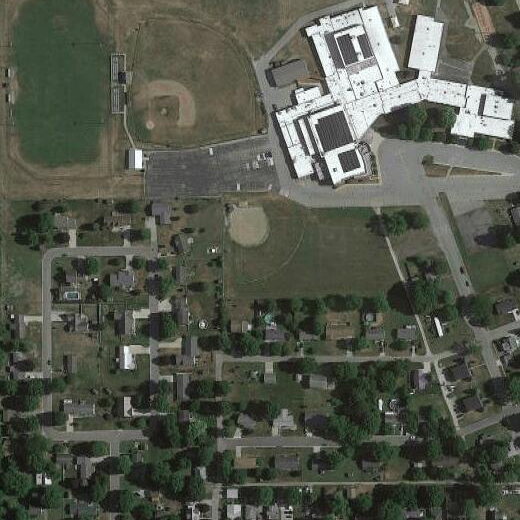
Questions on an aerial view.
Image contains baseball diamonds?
Yes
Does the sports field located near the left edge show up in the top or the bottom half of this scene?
top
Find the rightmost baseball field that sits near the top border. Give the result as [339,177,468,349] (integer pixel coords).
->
[129,19,254,144]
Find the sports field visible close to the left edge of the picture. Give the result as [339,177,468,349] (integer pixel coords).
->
[14,0,110,166]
